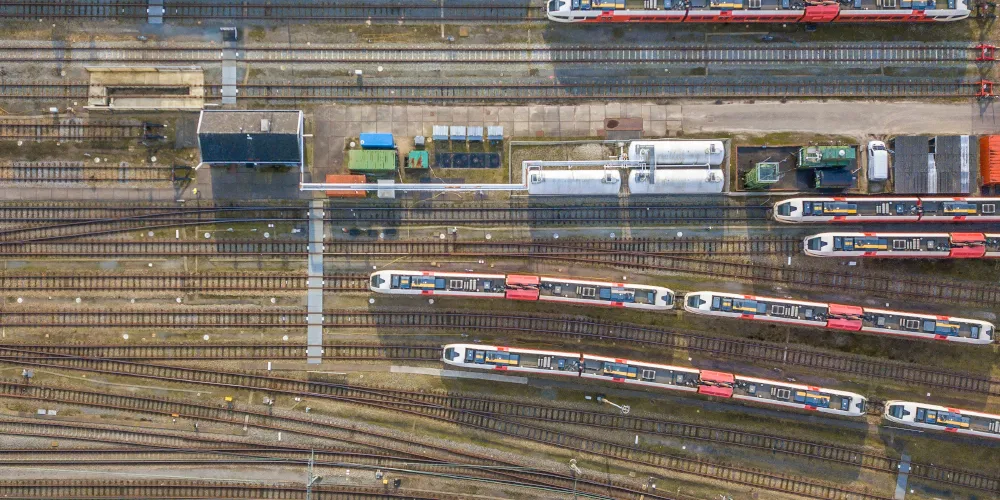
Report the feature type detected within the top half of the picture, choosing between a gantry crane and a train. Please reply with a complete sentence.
The feature located within the top half of the picture is a train.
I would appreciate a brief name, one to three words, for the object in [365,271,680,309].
train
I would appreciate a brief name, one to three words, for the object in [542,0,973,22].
train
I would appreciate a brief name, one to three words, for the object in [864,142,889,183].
vehicle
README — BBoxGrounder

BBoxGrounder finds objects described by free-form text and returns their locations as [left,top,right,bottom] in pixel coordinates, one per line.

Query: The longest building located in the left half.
[195,108,309,170]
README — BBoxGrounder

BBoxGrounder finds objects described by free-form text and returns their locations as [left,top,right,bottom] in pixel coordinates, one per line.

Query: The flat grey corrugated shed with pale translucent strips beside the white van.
[883,136,978,195]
